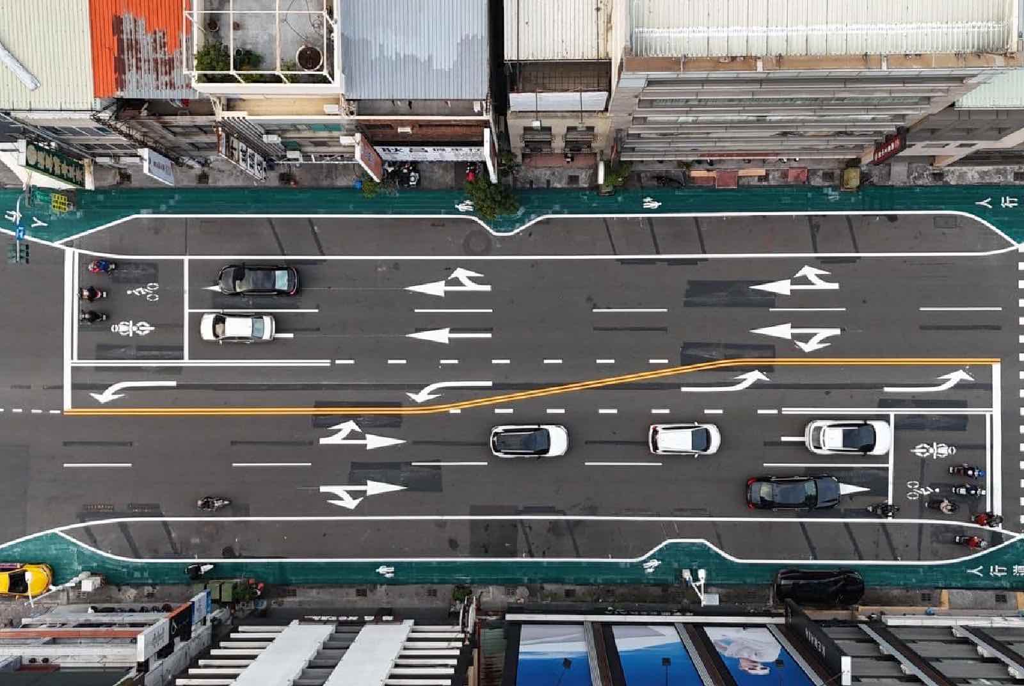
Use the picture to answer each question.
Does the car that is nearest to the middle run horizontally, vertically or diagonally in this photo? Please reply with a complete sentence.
The car that is nearest to the middle is oriented horizontally.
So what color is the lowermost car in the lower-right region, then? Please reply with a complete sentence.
The lowermost car in the lower-right region looks black in the image.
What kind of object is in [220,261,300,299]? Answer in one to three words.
car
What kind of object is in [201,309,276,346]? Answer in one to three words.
car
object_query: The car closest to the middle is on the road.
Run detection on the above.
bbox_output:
[490,421,568,460]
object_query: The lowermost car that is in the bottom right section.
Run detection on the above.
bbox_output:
[773,569,862,610]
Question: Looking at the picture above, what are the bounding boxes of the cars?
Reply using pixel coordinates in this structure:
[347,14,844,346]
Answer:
[804,417,889,458]
[490,421,568,460]
[649,421,720,458]
[220,261,300,299]
[773,569,862,610]
[747,473,838,513]
[201,309,276,346]
[0,560,57,600]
